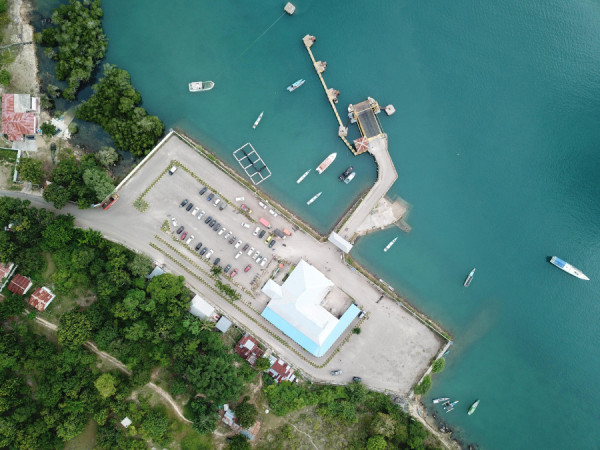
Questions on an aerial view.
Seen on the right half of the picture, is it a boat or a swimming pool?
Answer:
boat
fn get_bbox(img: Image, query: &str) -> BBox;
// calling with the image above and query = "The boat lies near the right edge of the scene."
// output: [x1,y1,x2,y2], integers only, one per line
[549,256,591,280]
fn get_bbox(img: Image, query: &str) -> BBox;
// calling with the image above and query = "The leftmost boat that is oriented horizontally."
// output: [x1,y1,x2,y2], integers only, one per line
[188,79,215,93]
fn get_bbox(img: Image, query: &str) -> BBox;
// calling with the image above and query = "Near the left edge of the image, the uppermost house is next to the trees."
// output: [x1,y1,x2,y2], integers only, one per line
[0,92,41,142]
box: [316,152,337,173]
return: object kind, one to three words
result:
boat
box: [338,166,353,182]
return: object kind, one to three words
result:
boat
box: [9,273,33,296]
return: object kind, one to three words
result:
house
